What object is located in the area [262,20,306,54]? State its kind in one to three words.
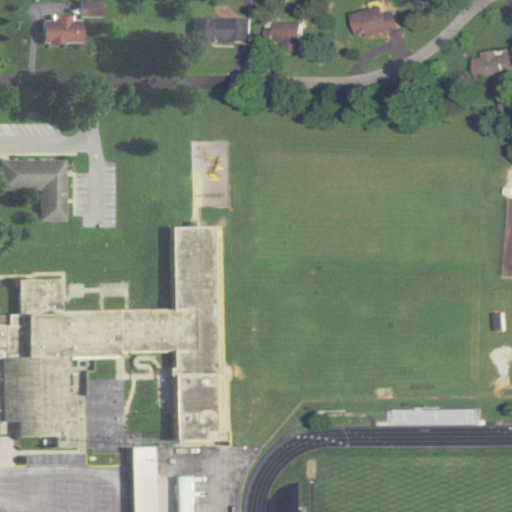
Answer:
house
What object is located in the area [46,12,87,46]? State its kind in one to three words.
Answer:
house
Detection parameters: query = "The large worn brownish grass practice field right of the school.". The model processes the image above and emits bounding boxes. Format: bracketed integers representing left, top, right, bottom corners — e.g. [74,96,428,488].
[258,153,478,392]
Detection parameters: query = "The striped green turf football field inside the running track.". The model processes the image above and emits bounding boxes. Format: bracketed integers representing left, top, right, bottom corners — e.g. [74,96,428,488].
[267,446,512,512]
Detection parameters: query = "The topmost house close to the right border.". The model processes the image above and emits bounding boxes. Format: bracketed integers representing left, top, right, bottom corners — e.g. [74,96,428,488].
[470,49,512,78]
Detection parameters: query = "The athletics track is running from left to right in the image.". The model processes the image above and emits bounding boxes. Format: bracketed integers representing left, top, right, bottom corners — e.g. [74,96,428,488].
[240,422,512,512]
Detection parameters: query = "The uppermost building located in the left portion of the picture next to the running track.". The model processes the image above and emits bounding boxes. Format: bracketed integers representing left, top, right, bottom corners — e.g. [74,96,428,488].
[0,222,230,443]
